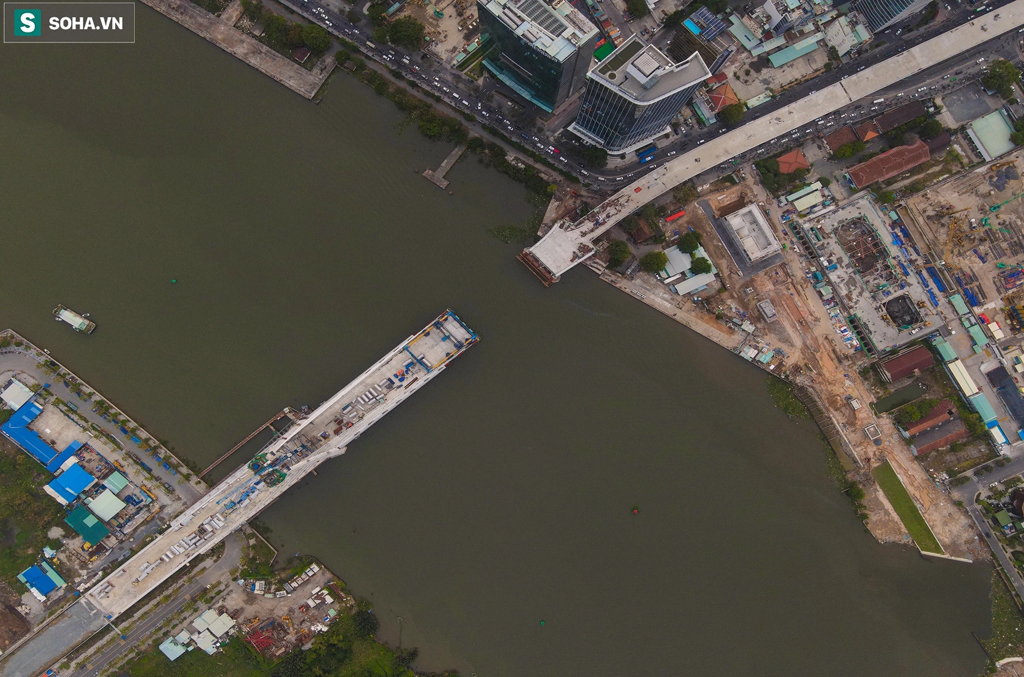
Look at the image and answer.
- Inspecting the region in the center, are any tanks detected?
No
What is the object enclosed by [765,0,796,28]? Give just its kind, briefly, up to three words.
house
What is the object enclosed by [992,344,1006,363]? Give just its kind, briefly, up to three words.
vehicle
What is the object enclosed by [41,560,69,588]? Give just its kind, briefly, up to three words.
shed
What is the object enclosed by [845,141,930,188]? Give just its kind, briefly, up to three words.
building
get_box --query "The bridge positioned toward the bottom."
[85,312,478,619]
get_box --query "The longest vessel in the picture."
[52,304,98,335]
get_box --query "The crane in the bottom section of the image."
[215,443,306,505]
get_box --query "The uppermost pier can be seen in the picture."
[423,146,465,189]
